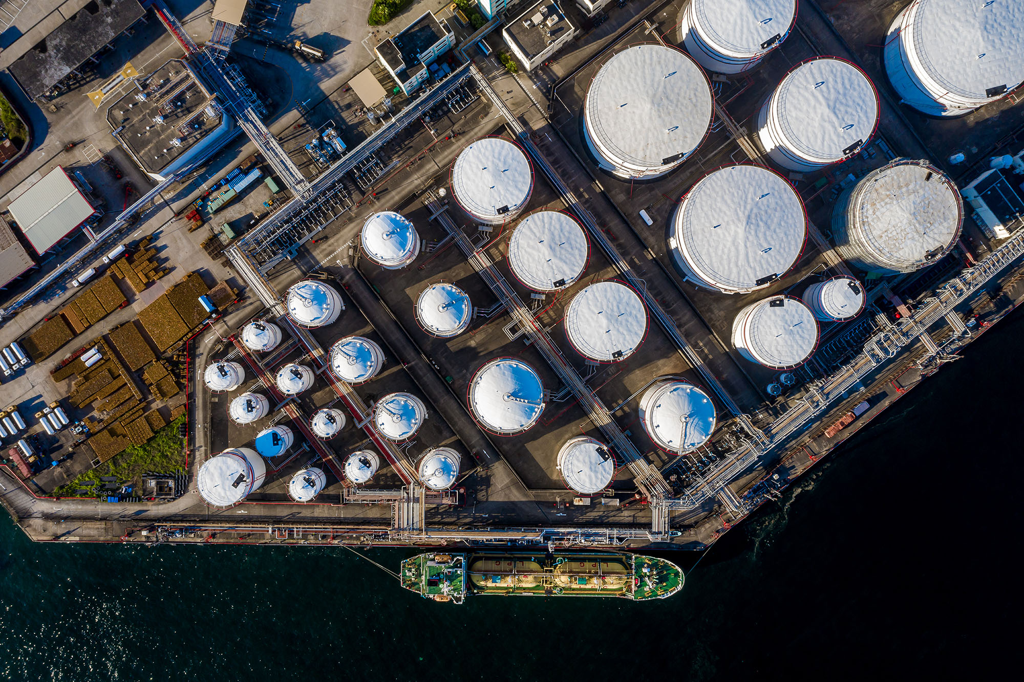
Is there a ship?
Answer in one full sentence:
Yes, I can see a ship in this picture.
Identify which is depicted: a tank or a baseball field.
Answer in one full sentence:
The image shows a tank.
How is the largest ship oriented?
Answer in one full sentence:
I'd say the largest ship is aligned from side to side in the picture.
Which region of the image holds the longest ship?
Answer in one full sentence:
The longest ship sits in the bottom section of the image.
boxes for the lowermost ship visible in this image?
[401,550,685,605]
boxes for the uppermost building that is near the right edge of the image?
[961,170,1024,240]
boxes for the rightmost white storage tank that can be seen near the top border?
[866,0,1024,123]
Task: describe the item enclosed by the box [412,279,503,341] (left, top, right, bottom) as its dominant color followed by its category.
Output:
white storage tank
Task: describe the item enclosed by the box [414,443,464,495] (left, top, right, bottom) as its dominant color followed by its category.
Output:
white storage tank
